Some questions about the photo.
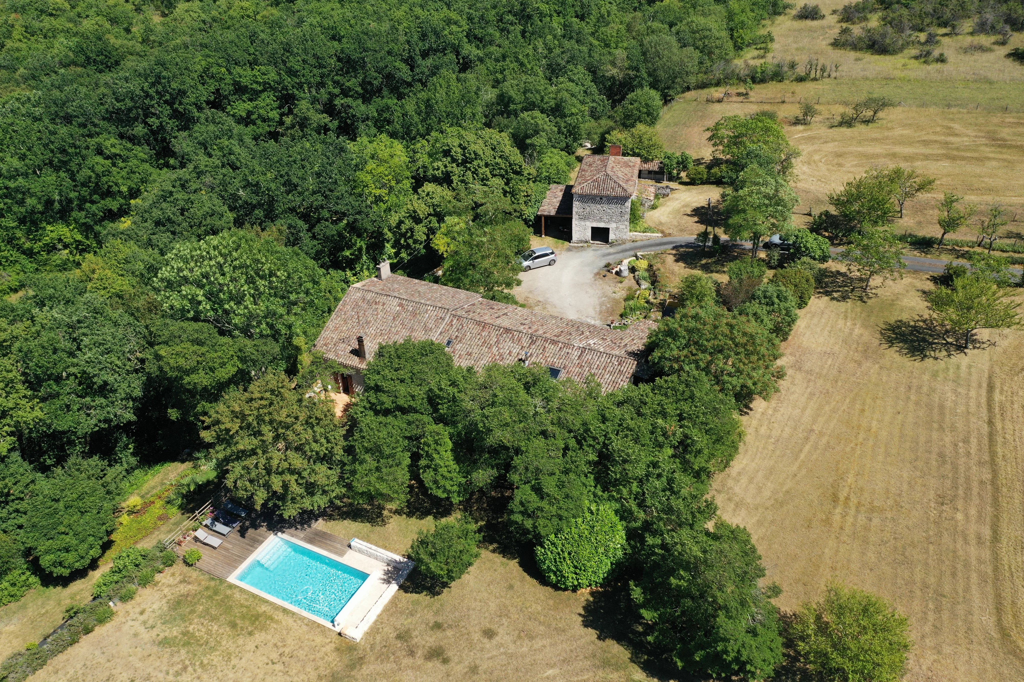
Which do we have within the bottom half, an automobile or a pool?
pool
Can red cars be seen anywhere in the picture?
No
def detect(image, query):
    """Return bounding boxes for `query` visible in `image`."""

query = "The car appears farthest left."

[517,246,557,271]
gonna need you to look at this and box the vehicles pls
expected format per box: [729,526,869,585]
[768,231,792,248]
[517,246,557,271]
